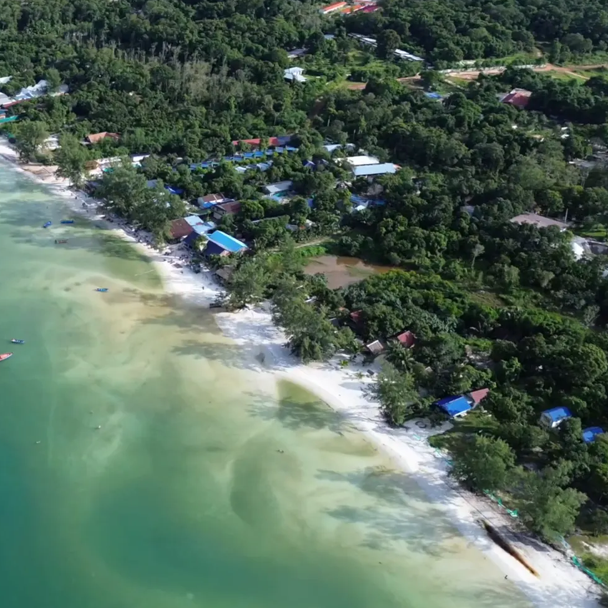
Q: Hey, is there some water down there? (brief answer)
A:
Yes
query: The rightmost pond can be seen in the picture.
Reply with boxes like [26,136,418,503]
[304,256,403,290]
